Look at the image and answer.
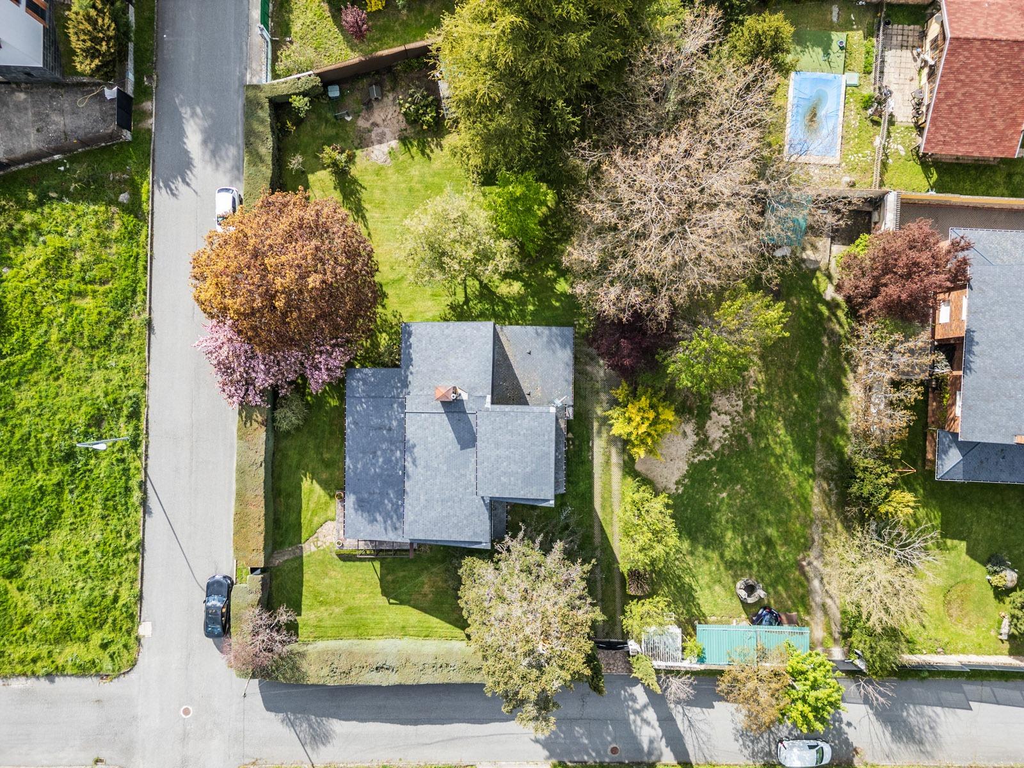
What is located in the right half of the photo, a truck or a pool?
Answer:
pool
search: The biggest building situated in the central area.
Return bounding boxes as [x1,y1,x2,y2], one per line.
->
[343,321,576,558]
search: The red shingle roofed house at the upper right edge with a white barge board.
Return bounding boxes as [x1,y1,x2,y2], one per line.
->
[919,0,1024,163]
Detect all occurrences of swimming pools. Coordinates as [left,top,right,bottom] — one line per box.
[785,69,846,163]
